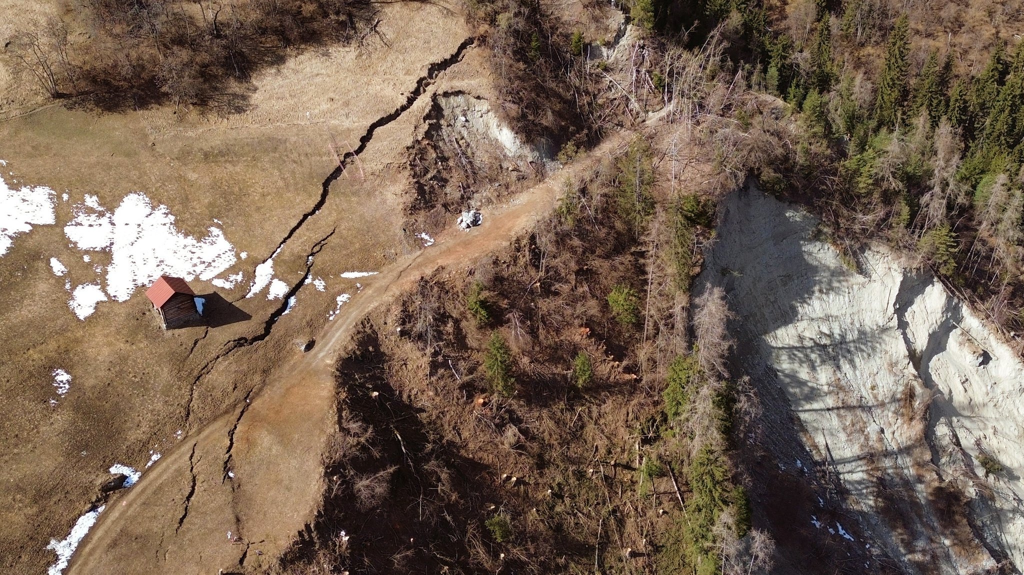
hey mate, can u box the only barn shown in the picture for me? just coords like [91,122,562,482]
[145,275,198,333]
